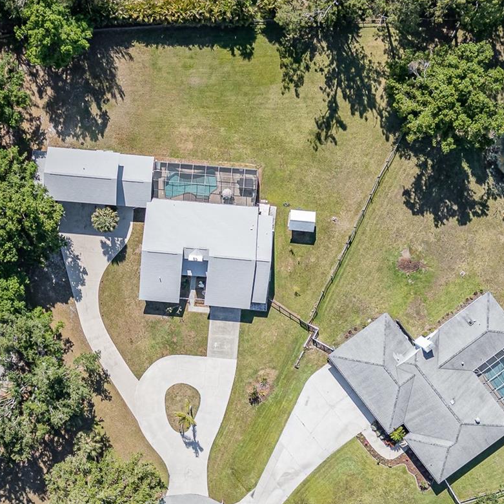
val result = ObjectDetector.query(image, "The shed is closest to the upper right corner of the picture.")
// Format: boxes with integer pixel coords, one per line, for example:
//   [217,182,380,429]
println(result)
[288,210,318,232]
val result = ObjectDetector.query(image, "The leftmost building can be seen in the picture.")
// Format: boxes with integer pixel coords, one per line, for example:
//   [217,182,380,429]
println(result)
[42,147,154,208]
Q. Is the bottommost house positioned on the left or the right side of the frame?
right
